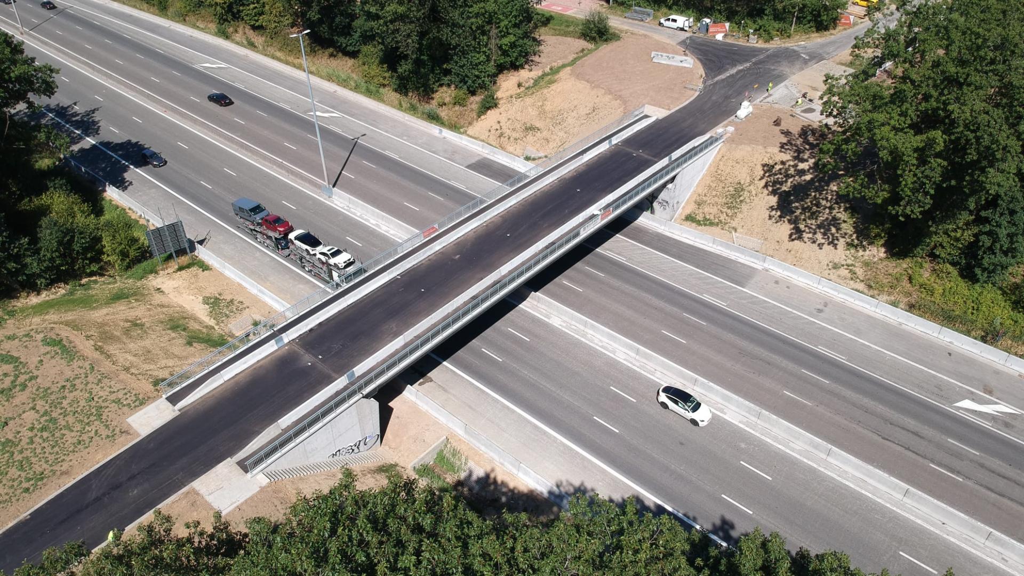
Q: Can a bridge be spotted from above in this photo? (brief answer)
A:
Yes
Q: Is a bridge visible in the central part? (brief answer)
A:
Yes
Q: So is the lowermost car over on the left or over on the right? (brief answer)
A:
right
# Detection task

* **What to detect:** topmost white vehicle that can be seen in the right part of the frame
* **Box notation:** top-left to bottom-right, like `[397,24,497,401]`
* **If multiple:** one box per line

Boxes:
[657,13,694,30]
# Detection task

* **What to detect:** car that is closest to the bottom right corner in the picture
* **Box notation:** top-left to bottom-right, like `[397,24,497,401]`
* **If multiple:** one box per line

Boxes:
[657,387,714,427]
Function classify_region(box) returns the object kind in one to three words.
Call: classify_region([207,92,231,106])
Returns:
car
